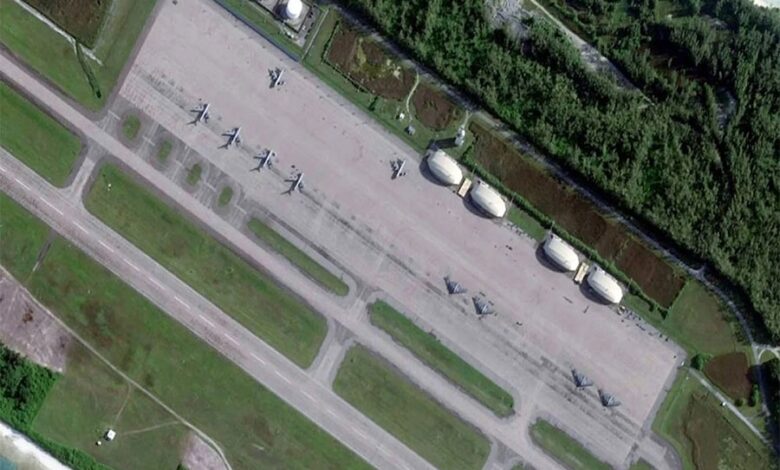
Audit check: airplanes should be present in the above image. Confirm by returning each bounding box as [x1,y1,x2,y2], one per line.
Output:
[271,69,290,86]
[473,297,496,312]
[444,277,468,291]
[393,159,412,177]
[224,129,241,145]
[571,369,594,385]
[192,106,210,122]
[598,388,622,403]
[256,152,273,168]
[286,174,305,190]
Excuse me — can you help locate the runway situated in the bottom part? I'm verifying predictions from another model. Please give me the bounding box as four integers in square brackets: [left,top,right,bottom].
[0,147,433,470]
